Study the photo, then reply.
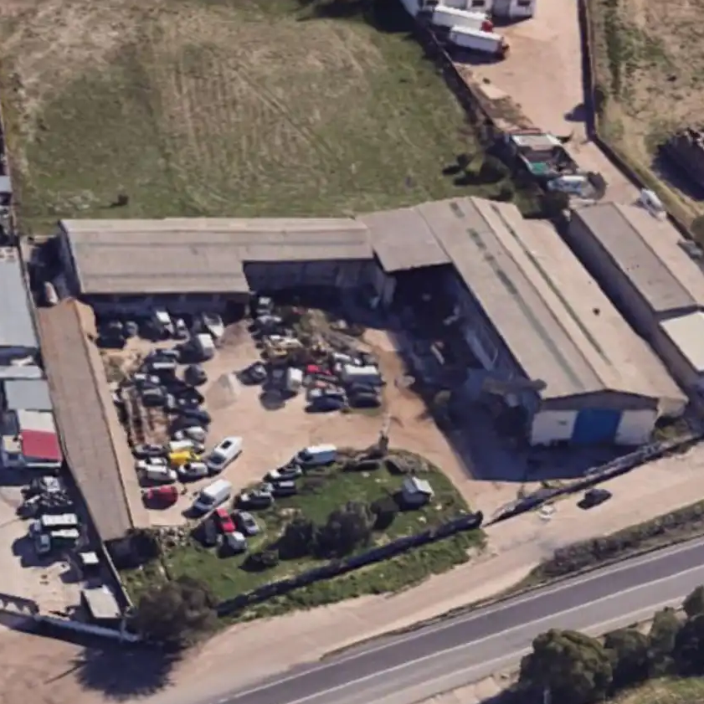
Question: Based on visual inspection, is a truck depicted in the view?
Yes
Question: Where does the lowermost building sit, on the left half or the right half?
left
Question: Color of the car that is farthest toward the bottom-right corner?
black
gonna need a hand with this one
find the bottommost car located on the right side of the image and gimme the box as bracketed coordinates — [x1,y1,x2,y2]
[578,487,613,510]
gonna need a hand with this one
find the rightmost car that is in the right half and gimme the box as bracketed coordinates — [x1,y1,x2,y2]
[682,239,704,264]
